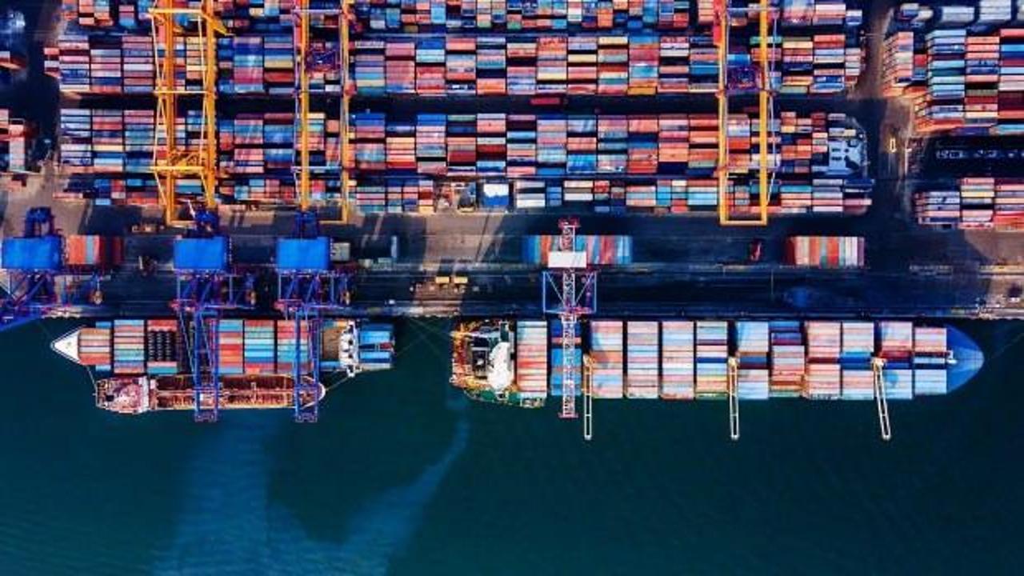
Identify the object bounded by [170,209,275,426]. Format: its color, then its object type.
blue container crane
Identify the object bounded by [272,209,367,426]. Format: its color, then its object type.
blue container crane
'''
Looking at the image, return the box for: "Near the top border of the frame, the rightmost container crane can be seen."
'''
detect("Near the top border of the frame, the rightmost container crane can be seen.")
[706,0,784,223]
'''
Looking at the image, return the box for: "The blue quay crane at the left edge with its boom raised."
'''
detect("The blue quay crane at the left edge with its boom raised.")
[0,209,133,338]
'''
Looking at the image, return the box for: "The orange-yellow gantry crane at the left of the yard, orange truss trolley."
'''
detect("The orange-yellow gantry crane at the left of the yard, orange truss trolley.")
[149,0,241,223]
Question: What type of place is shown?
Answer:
port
